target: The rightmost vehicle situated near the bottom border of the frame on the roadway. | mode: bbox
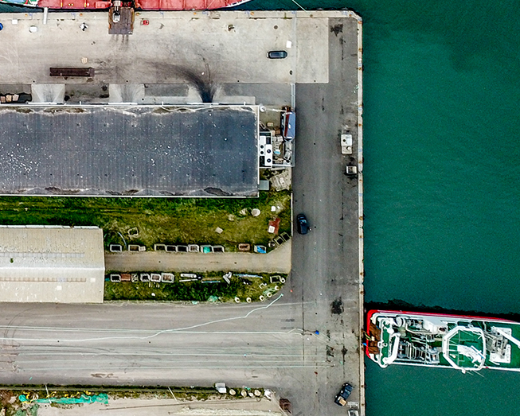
[335,382,351,404]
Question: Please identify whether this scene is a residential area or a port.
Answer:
port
